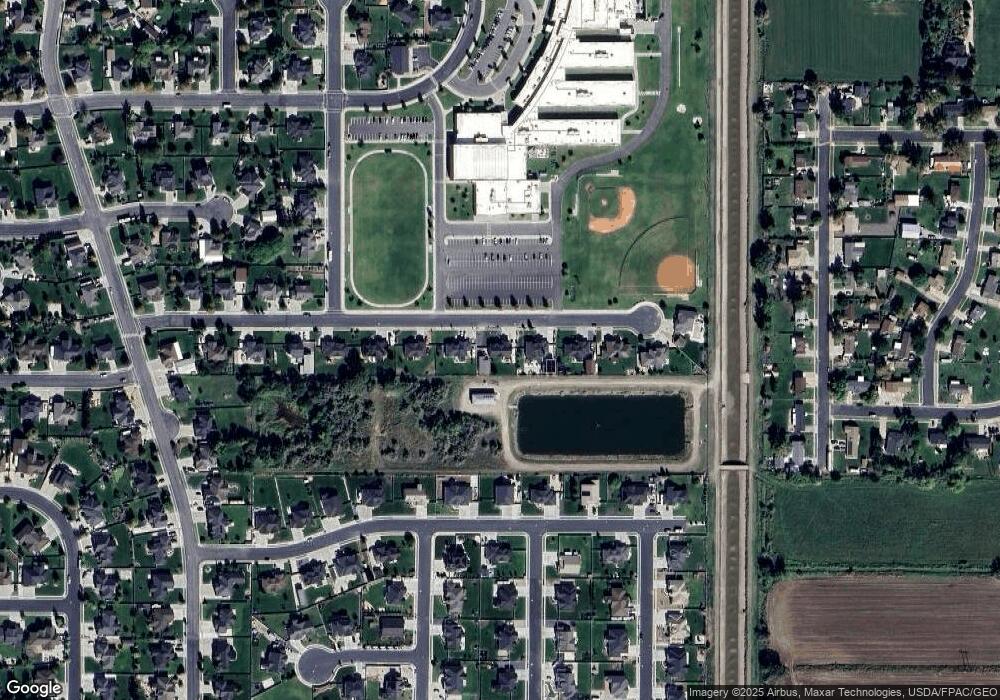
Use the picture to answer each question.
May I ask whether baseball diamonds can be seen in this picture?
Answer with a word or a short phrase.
Yes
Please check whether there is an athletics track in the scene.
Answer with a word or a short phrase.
Yes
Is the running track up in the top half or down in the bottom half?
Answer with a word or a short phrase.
top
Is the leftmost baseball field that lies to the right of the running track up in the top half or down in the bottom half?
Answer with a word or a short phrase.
top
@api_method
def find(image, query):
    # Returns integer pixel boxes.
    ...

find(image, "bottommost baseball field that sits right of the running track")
[620,218,694,292]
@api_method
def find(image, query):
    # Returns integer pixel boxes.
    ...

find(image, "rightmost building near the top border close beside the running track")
[451,0,641,217]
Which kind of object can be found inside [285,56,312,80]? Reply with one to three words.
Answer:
house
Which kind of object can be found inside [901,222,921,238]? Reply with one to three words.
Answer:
shed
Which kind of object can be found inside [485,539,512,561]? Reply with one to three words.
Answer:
house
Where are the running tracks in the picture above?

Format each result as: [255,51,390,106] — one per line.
[350,149,429,307]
